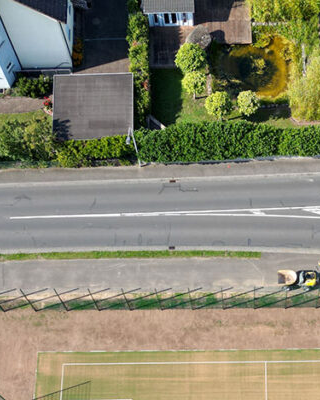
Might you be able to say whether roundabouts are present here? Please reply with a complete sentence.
No, no roundabout is visible in the view.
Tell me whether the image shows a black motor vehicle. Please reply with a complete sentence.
No, I can see no black motor vehicle in this picture.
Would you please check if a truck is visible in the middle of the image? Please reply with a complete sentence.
No, I see no truck in the middle of the image.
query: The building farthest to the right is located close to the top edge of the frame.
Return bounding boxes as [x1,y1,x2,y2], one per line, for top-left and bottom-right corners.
[141,0,195,25]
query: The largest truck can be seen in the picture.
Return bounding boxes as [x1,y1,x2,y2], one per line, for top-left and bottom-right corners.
[279,268,317,294]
